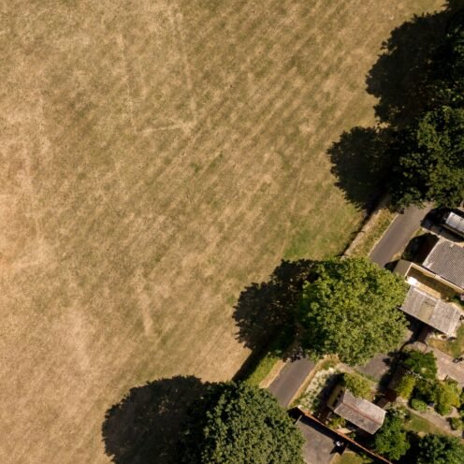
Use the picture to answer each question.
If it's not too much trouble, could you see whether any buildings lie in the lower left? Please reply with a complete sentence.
No, no building is visible in the lower left.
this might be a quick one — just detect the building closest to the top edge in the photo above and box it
[433,213,464,242]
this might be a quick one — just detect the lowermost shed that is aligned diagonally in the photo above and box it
[327,382,387,434]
